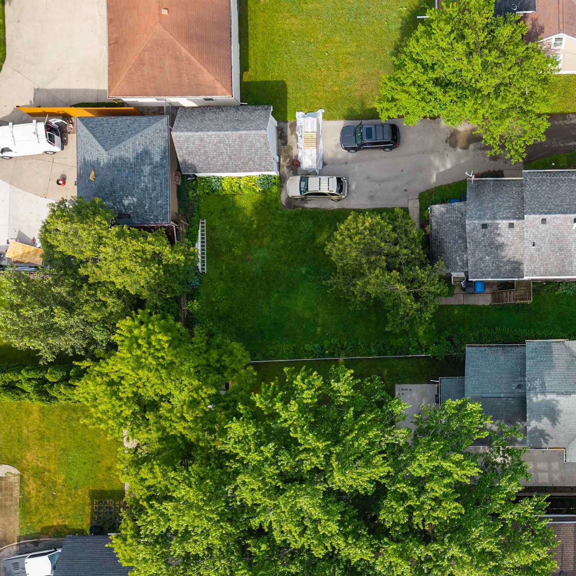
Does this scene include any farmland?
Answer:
No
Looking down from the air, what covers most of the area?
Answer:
trees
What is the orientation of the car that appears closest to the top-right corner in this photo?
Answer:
from side to side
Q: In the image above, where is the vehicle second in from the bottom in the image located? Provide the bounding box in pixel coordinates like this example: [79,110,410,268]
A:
[287,174,350,203]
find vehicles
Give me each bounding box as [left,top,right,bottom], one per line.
[287,174,350,203]
[3,546,62,576]
[0,118,74,160]
[340,123,401,153]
